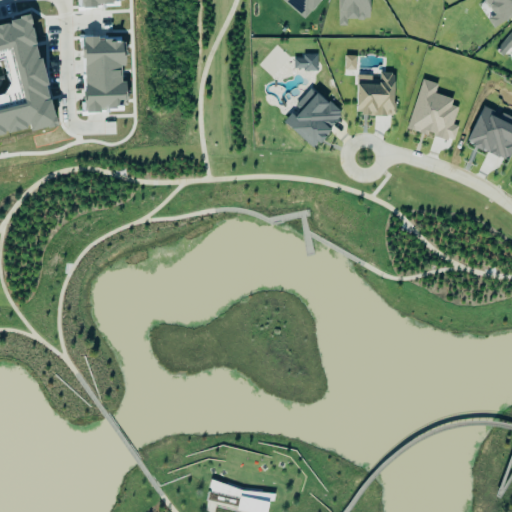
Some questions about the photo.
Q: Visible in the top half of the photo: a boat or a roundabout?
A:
roundabout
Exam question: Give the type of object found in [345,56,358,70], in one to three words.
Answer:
gazebo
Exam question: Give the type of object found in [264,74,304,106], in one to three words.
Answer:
swimming pool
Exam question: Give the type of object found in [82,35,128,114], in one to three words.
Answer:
building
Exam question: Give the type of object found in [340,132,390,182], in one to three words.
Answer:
roundabout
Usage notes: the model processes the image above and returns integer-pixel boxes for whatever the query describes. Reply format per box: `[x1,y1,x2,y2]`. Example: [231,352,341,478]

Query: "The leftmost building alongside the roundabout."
[288,84,342,146]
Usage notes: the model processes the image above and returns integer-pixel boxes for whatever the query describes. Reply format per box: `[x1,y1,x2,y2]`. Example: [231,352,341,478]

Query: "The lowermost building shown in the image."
[208,480,276,512]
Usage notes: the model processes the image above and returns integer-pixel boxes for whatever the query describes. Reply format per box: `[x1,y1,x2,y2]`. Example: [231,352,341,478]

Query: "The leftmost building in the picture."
[0,12,57,140]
